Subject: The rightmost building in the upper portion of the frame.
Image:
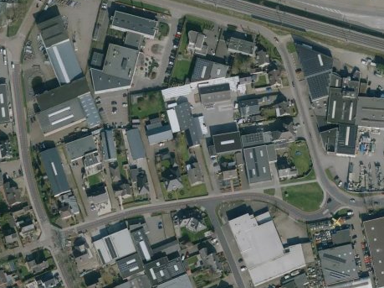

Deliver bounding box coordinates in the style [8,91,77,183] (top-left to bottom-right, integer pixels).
[356,96,384,129]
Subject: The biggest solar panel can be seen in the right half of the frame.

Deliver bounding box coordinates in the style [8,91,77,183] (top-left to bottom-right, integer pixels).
[309,72,330,99]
